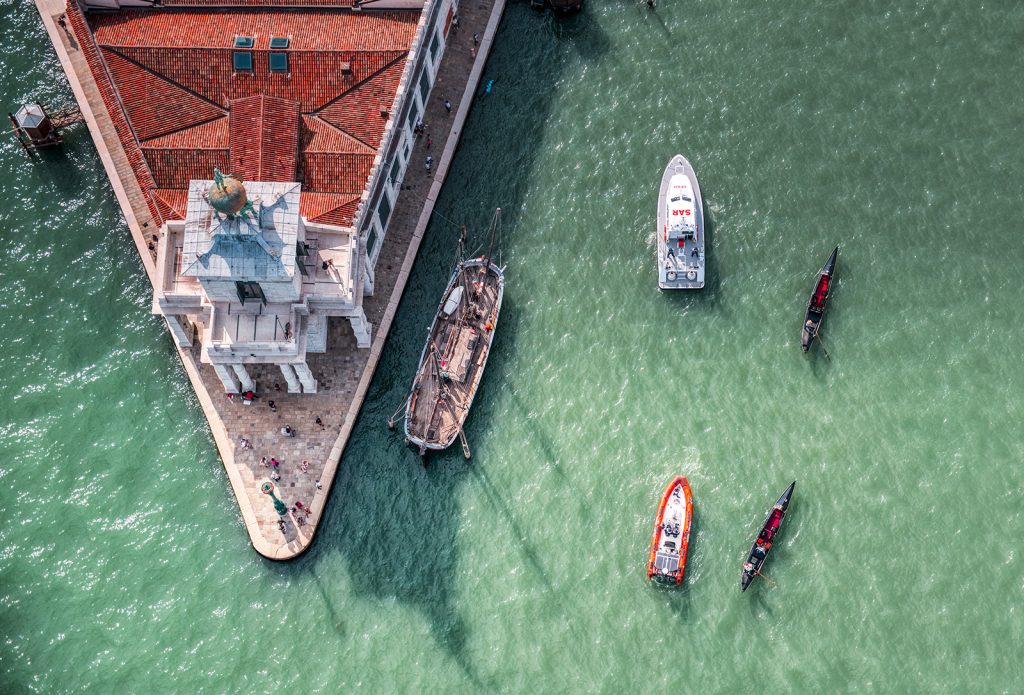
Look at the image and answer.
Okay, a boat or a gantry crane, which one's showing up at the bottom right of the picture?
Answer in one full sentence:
It is a boat that can be seen at the bottom right of the picture.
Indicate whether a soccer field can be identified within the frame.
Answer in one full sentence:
No, there is no soccer field in the image.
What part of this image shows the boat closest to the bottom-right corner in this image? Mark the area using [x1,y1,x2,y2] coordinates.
[742,478,796,592]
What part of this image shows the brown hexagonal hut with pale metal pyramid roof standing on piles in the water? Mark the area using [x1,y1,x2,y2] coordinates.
[0,104,62,152]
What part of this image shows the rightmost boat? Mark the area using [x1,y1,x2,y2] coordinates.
[802,240,838,353]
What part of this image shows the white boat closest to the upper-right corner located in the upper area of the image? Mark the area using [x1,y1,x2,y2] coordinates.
[657,152,705,294]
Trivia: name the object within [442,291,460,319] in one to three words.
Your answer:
boat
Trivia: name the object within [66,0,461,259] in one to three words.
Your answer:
warehouse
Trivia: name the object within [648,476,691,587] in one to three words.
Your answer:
boat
